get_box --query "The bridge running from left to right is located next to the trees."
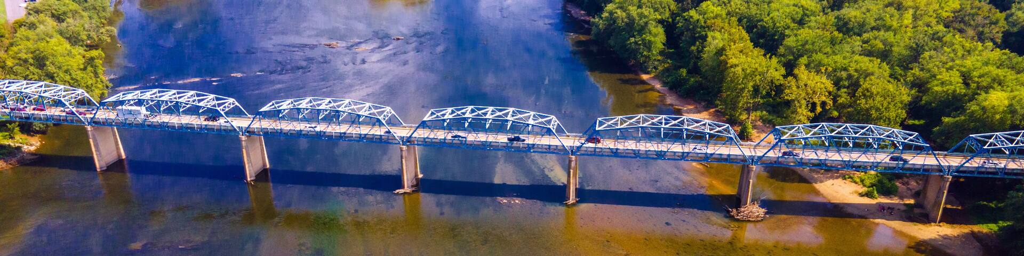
[0,81,1024,226]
